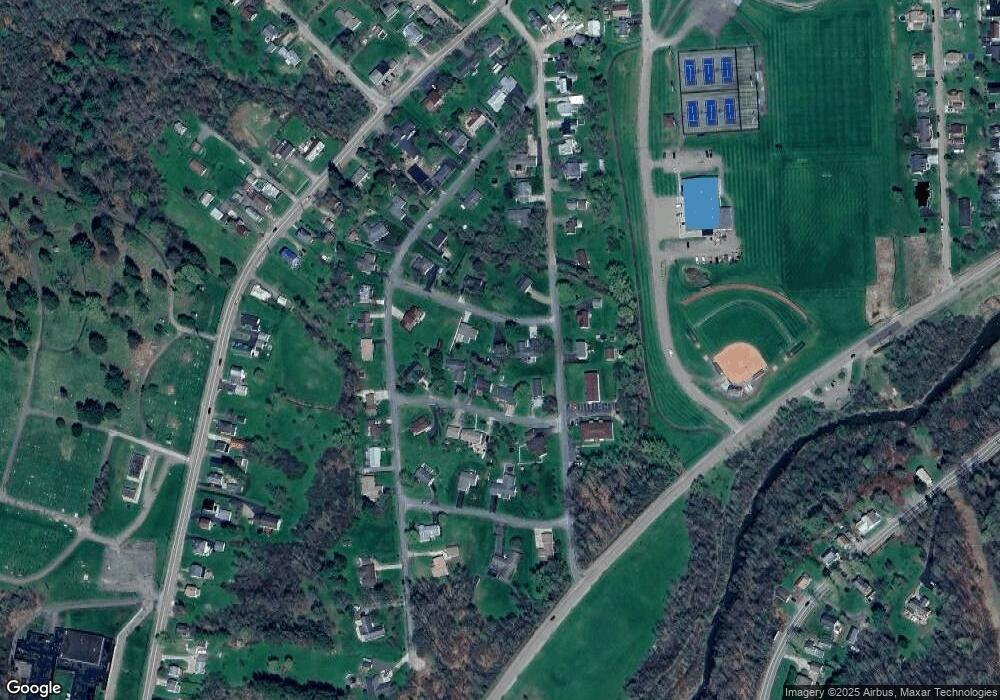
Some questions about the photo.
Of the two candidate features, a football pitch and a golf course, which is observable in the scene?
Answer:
football pitch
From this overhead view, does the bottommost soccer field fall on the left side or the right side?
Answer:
right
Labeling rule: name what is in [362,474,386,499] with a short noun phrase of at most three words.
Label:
house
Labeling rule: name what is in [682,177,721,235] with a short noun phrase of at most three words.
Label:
building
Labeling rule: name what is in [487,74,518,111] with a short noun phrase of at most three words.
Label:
house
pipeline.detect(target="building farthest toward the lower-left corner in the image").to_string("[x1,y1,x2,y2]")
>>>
[14,629,113,700]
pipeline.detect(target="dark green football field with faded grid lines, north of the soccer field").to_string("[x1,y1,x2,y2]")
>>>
[785,17,876,149]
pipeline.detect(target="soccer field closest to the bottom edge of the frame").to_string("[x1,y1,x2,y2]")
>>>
[787,155,867,288]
